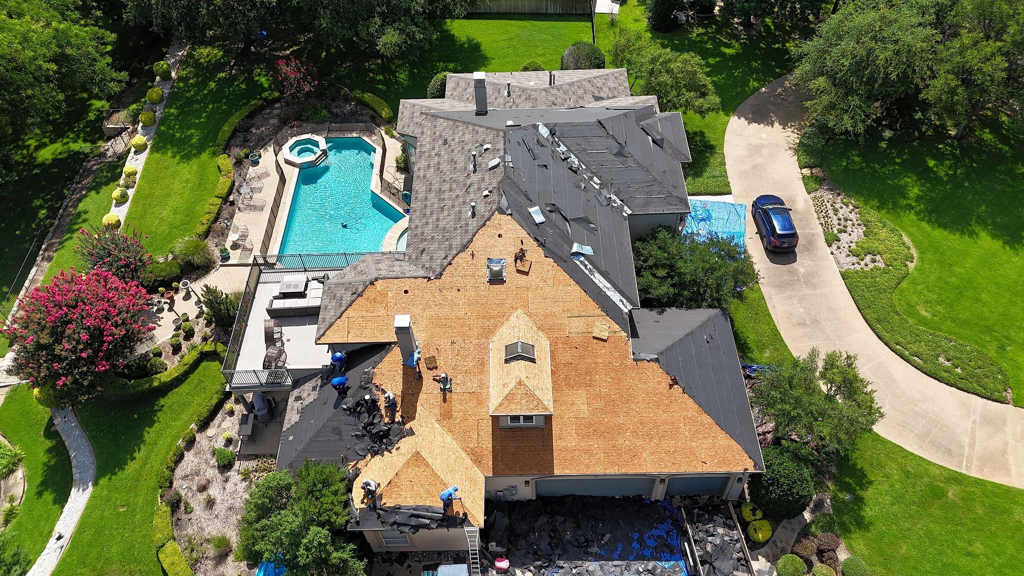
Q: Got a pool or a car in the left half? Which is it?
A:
pool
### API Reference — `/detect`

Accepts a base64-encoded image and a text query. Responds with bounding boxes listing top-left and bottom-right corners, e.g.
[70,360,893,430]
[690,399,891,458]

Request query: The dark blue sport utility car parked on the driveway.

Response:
[755,195,806,258]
